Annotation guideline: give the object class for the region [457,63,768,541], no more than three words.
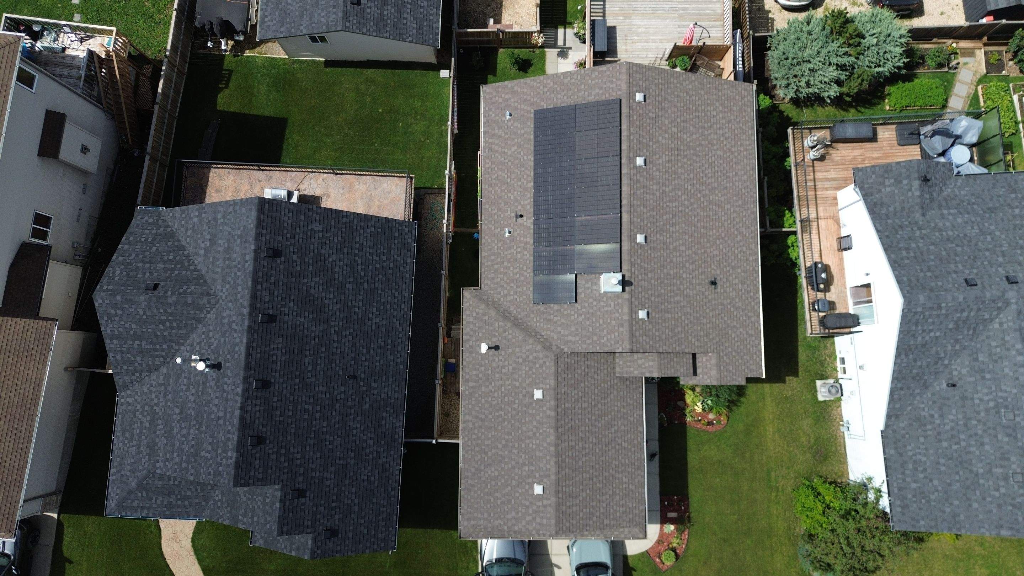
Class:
house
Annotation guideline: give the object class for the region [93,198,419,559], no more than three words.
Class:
house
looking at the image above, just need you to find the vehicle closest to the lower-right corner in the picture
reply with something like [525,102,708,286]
[564,541,621,576]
